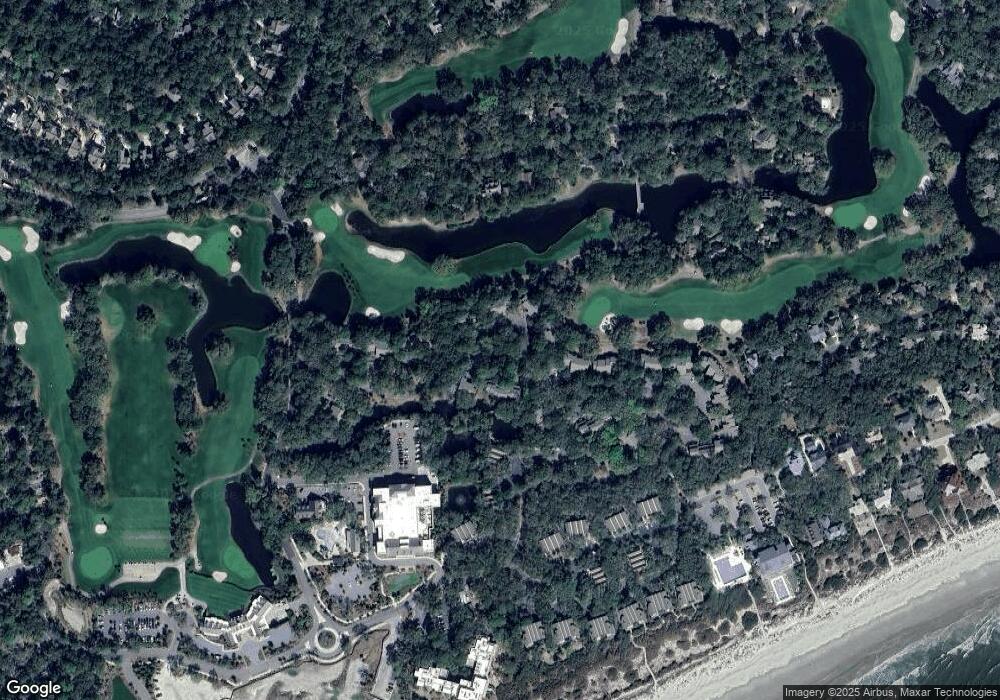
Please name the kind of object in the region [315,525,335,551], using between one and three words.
swimming pool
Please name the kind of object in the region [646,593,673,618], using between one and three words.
house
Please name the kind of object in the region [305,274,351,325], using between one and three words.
pond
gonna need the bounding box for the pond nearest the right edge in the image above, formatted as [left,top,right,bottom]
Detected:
[915,77,1000,266]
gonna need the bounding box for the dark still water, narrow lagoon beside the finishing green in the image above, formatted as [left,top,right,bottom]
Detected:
[226,481,274,587]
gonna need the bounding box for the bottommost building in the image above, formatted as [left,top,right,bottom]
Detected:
[413,636,495,700]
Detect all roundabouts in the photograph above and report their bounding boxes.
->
[307,620,347,660]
